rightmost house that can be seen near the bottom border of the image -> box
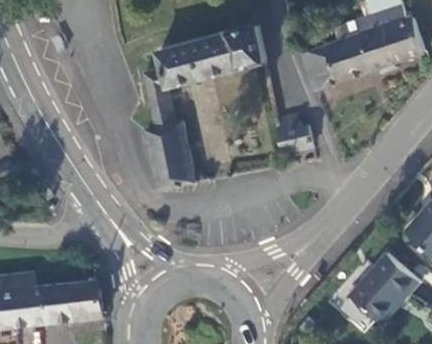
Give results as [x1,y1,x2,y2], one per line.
[329,252,420,332]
